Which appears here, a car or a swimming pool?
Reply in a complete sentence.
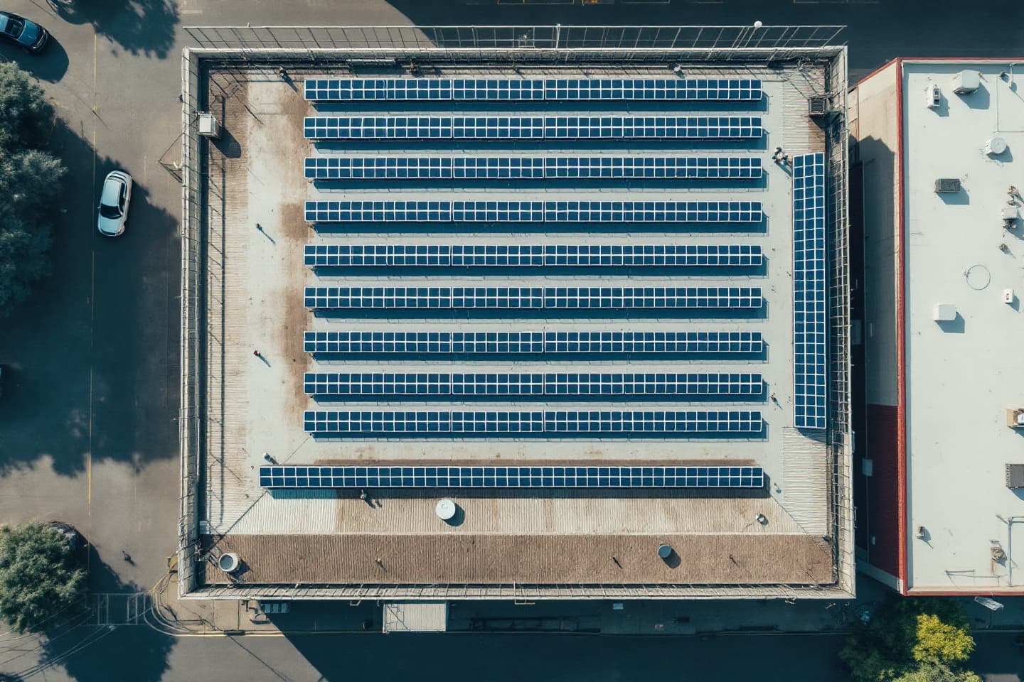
It is a car that can be seen here.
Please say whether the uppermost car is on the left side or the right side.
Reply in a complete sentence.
You can find the uppermost car on the left side of the picture.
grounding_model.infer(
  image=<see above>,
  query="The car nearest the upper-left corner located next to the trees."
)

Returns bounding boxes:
[0,5,52,54]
